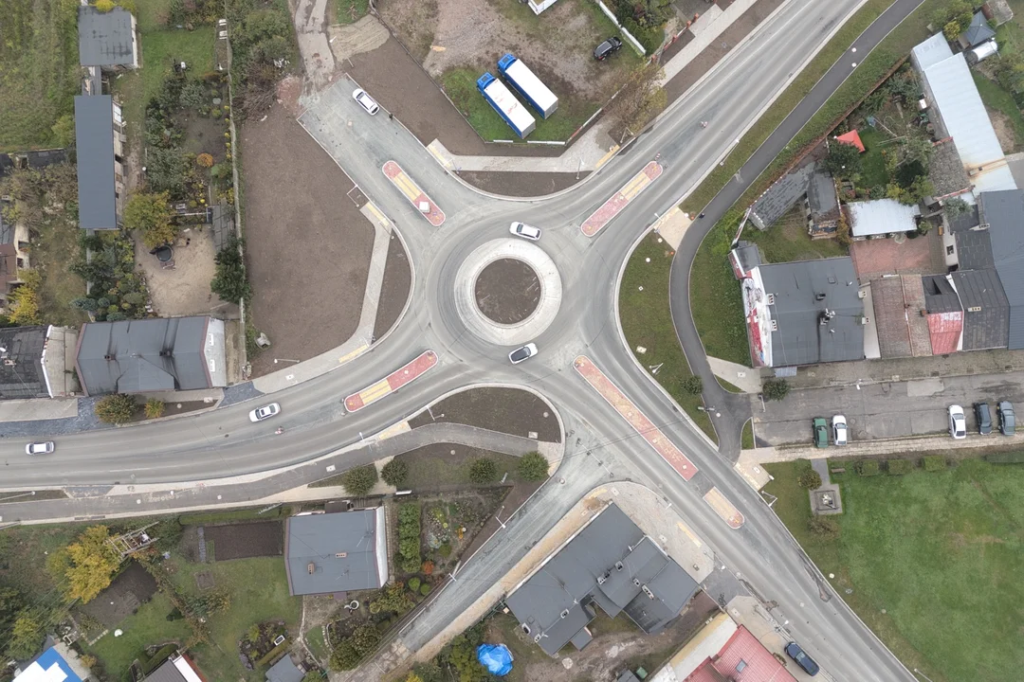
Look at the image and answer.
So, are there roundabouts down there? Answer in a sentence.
Yes, this view includes a roundabout.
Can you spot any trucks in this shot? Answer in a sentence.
Yes, this view includes a truck.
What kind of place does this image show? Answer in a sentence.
This image shows a residential area.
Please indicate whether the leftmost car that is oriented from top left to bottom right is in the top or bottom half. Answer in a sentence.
You can find the leftmost car that is oriented from top left to bottom right in the top half.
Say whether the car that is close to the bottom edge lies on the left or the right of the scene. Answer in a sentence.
The car that is close to the bottom edge is on the right side of the image.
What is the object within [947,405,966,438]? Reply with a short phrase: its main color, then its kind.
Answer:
white car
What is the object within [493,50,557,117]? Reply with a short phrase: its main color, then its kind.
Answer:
white truck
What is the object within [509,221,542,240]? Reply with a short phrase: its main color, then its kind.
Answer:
white car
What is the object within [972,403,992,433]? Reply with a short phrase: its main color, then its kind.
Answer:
gray car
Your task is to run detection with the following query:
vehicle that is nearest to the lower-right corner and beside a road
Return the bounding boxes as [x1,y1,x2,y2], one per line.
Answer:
[786,641,818,675]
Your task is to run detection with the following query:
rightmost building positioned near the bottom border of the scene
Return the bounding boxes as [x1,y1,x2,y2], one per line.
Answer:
[635,604,798,682]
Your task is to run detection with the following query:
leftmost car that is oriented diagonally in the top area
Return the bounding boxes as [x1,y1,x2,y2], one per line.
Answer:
[351,87,382,117]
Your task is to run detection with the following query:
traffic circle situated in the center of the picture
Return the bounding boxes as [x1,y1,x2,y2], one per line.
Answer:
[453,236,563,346]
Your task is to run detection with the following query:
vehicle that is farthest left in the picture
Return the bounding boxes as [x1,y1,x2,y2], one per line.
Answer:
[25,441,57,456]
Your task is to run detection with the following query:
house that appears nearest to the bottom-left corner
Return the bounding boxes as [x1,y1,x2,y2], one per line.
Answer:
[8,628,99,682]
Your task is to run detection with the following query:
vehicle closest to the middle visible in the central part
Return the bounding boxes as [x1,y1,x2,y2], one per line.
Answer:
[508,343,539,364]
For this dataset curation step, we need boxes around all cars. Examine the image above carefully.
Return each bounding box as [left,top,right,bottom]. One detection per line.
[509,221,542,240]
[508,343,539,364]
[947,405,966,438]
[249,402,282,422]
[831,415,849,445]
[972,403,992,433]
[996,401,1016,435]
[25,441,57,456]
[351,87,382,117]
[811,417,828,448]
[786,641,818,675]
